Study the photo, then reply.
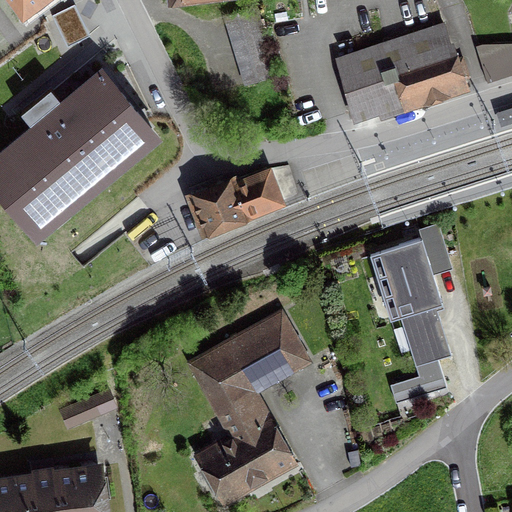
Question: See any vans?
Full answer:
Yes, there is a van in the image.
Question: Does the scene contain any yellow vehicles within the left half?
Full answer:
Yes, within the left half there is a yellow vehicle.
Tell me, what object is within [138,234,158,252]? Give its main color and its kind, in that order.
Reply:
gray car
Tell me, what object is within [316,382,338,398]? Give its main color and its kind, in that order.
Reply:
blue car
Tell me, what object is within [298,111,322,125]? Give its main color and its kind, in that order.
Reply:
white car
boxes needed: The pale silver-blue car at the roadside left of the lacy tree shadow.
[150,86,166,108]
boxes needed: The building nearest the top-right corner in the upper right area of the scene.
[476,42,512,84]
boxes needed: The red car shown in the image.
[442,271,455,292]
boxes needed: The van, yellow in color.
[128,212,160,243]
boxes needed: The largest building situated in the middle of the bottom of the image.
[188,308,312,506]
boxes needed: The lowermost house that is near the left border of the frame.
[0,452,111,512]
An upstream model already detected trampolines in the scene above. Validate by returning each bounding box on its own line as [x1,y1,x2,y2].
[36,36,52,52]
[143,494,159,510]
